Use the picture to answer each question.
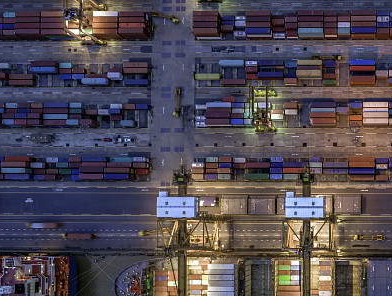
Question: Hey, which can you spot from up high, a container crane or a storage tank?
container crane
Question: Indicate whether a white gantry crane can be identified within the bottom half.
No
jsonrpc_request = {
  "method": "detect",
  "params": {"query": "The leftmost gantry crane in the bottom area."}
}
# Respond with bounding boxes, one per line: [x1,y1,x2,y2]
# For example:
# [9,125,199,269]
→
[155,164,226,296]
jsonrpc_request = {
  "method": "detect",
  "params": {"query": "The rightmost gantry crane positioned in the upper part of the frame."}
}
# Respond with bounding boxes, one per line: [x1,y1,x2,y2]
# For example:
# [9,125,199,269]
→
[248,79,279,131]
